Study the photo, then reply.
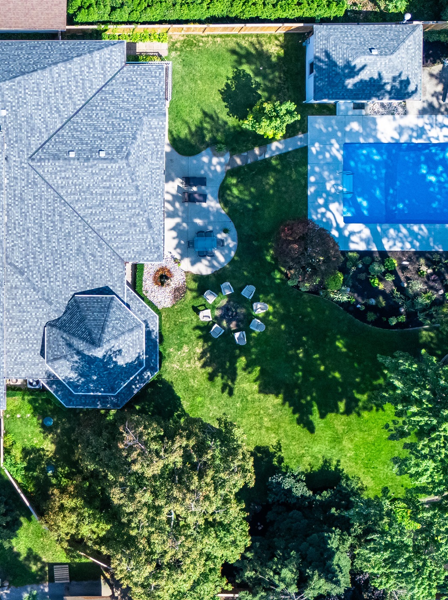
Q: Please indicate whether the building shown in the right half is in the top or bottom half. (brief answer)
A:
top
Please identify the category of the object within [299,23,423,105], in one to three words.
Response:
building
